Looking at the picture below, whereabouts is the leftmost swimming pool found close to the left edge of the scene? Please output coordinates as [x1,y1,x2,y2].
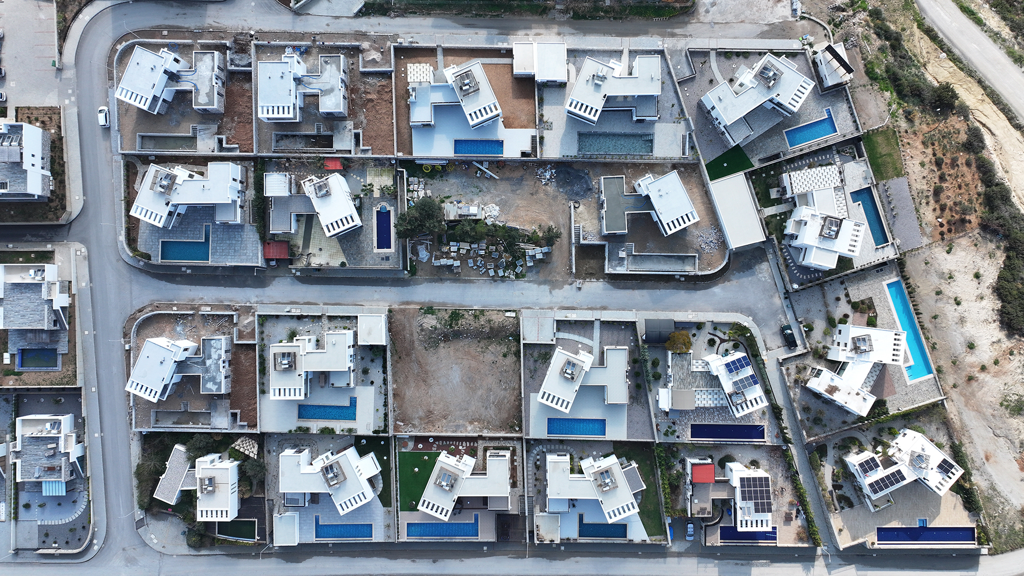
[15,346,59,370]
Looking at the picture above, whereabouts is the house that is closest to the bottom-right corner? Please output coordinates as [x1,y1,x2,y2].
[842,428,964,511]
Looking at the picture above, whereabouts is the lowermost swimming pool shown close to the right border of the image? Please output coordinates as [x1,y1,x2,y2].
[876,517,977,543]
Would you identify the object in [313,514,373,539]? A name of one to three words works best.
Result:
swimming pool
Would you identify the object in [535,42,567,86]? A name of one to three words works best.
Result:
building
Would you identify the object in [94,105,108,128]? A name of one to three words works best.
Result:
car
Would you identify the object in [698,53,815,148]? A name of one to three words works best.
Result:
house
